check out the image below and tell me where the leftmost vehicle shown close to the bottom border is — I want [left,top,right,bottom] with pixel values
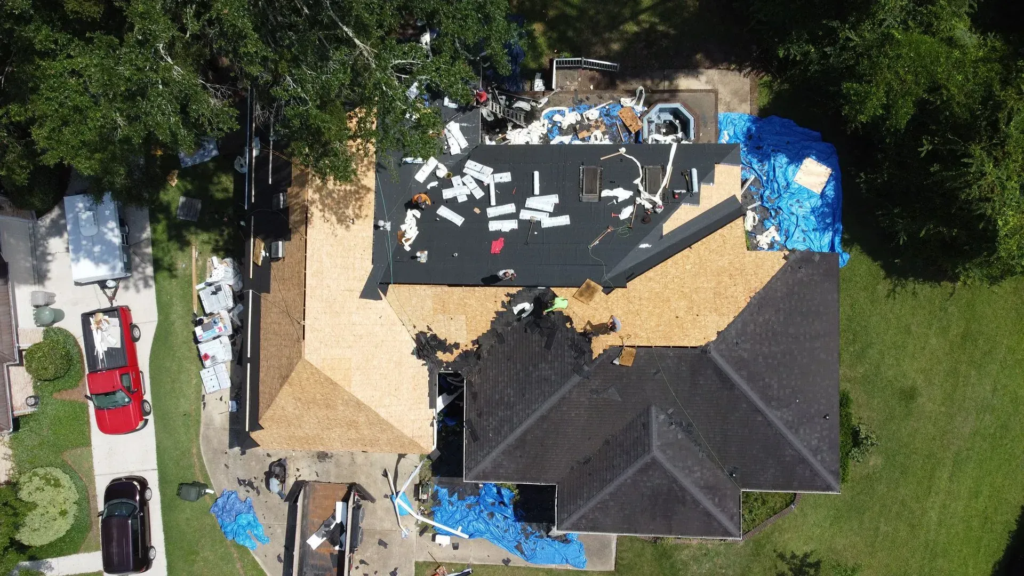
[96,474,156,574]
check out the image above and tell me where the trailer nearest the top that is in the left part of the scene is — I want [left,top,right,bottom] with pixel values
[64,192,138,300]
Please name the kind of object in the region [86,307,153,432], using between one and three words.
truck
